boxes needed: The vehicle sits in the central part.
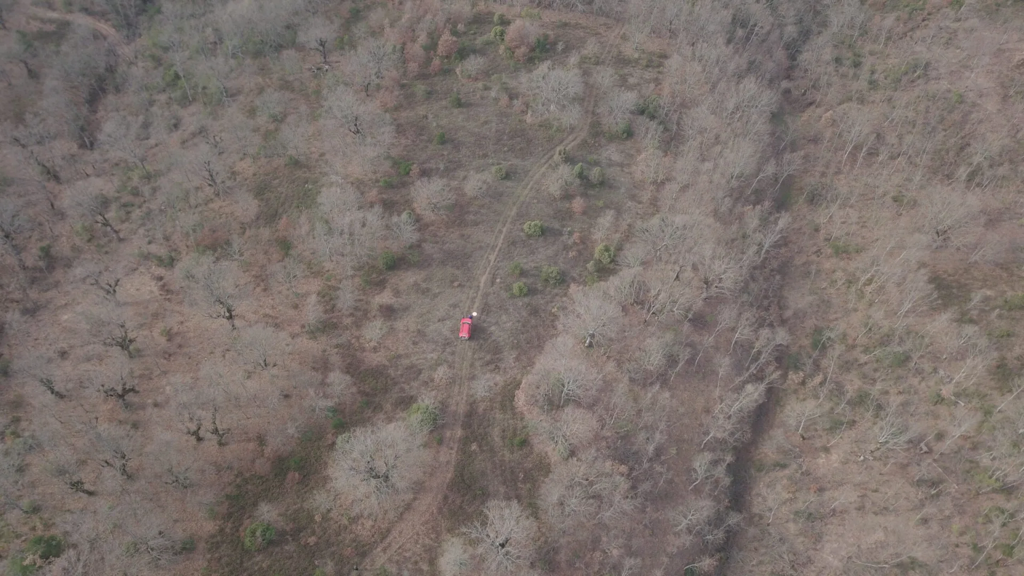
[461,319,473,340]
